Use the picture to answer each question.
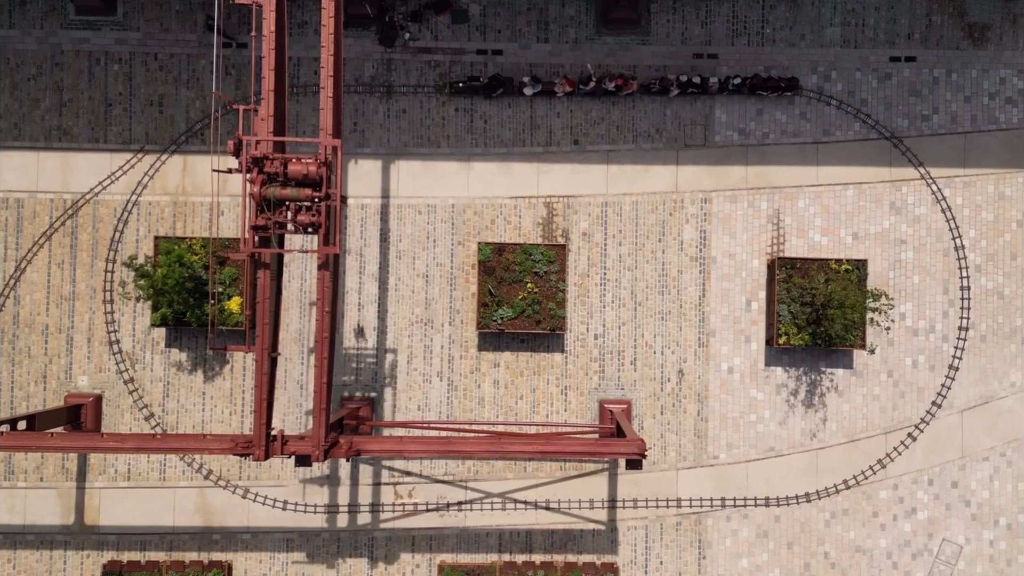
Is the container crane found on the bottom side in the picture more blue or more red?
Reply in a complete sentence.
In this view, the container crane found on the bottom side is red.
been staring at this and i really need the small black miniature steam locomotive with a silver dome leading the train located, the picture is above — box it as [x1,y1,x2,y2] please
[449,75,482,97]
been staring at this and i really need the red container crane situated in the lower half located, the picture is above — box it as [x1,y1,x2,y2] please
[0,390,650,457]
